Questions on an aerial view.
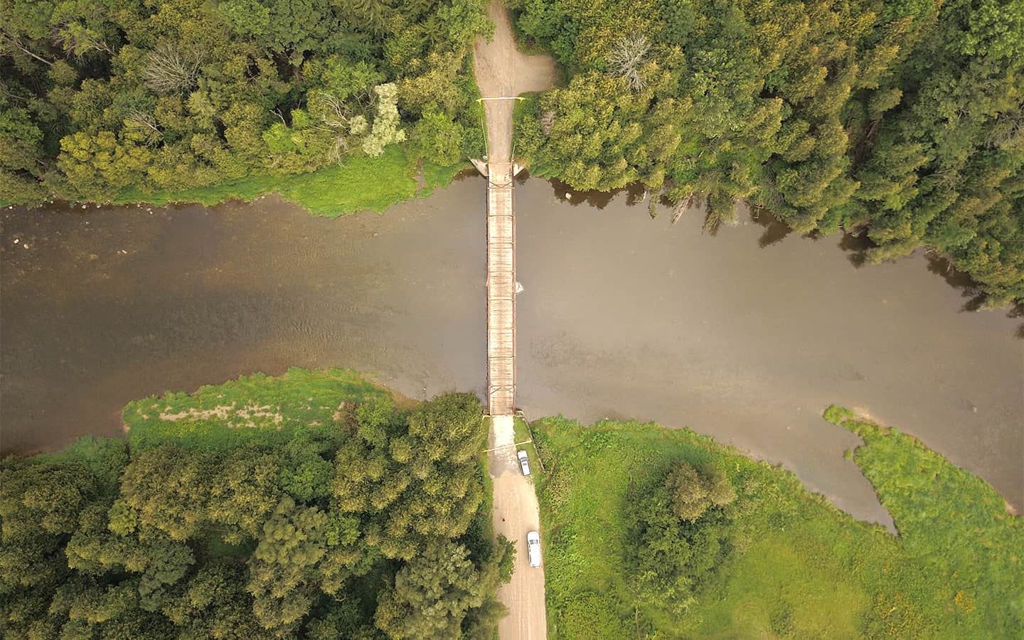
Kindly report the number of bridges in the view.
1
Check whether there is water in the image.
Yes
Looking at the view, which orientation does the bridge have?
up and down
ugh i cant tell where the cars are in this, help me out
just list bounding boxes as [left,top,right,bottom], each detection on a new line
[517,449,531,476]
[527,531,541,569]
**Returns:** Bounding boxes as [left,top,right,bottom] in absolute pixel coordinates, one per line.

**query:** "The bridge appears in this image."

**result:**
[473,158,525,418]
